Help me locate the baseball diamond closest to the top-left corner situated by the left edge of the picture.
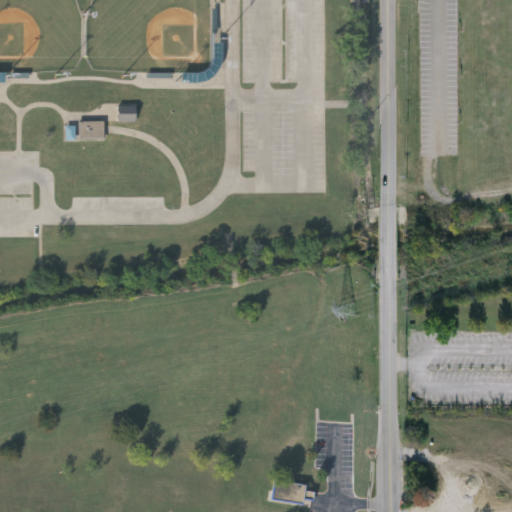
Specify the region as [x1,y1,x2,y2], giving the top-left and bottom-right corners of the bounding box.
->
[0,0,82,71]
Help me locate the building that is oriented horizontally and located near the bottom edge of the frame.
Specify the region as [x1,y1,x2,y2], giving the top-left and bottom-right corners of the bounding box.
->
[272,482,315,504]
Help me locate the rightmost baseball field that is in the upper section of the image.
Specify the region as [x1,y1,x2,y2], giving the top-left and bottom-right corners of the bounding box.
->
[87,0,210,72]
